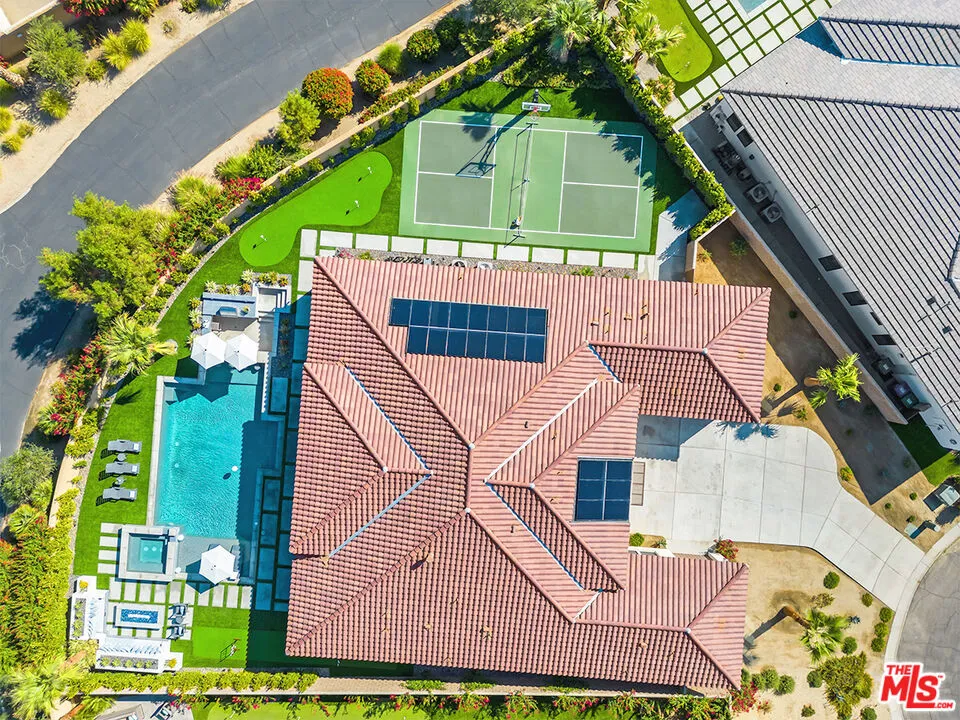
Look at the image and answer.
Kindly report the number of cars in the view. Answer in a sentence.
The photo contains no cars.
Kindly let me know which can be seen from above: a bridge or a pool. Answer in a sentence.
The one in the frame is a pool.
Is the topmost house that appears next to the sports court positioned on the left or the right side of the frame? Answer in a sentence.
The topmost house that appears next to the sports court appears in the right half of the scene.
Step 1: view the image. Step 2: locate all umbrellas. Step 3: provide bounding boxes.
[225,332,261,370]
[202,545,236,583]
[191,330,227,369]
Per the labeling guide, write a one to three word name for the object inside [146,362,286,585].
swimming pool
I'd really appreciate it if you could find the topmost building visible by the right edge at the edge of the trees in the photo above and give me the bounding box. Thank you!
[709,0,960,448]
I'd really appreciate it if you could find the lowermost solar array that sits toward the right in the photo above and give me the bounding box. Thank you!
[574,459,632,520]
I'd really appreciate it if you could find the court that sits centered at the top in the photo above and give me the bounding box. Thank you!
[399,109,657,251]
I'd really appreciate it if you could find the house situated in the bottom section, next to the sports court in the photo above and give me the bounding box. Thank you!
[283,255,772,693]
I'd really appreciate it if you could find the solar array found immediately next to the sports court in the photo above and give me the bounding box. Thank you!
[390,298,548,365]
